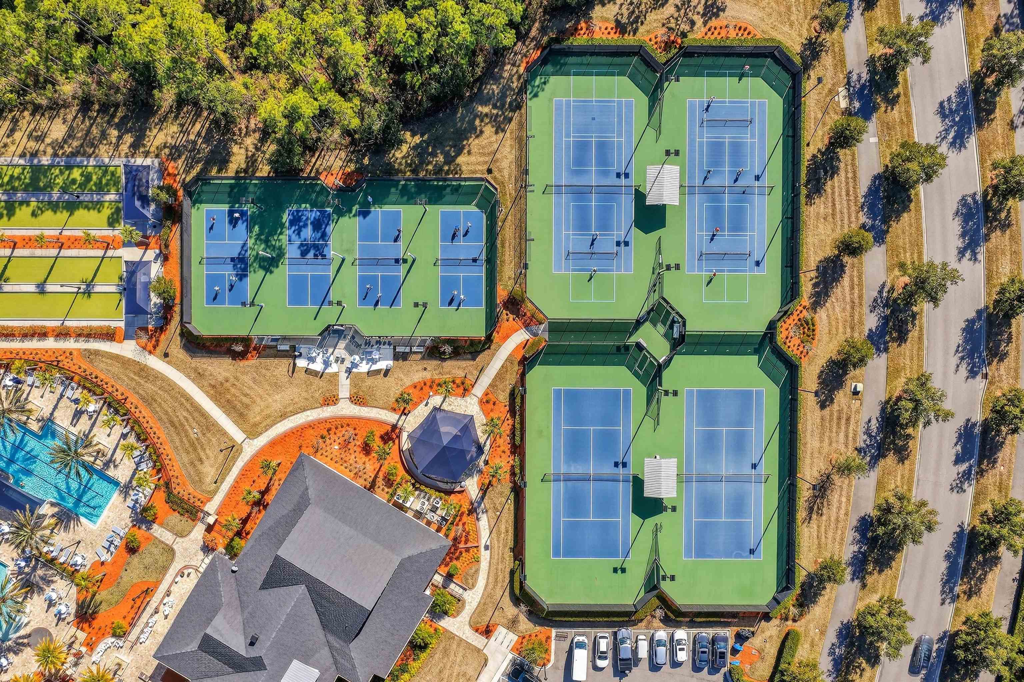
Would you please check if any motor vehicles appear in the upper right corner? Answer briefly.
No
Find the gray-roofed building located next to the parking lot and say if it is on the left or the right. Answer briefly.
left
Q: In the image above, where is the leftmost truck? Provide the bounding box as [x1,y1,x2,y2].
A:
[503,656,542,682]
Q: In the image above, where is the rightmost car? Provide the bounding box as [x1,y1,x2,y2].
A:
[908,636,931,674]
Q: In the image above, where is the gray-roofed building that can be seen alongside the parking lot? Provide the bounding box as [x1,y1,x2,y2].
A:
[153,452,452,682]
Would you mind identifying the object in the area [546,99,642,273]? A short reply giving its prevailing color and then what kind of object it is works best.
blue tennis court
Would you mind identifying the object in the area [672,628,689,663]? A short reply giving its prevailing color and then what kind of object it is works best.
white car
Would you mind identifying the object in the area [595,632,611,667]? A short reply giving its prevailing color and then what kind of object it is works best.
white car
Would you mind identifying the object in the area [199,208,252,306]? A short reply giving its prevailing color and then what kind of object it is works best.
blue sports court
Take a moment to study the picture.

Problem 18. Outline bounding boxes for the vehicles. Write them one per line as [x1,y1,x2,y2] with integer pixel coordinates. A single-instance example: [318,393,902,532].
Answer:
[503,656,542,682]
[695,631,712,667]
[636,633,647,655]
[672,628,689,663]
[570,630,588,681]
[595,632,611,667]
[908,636,931,674]
[653,630,669,666]
[617,626,634,671]
[713,632,730,667]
